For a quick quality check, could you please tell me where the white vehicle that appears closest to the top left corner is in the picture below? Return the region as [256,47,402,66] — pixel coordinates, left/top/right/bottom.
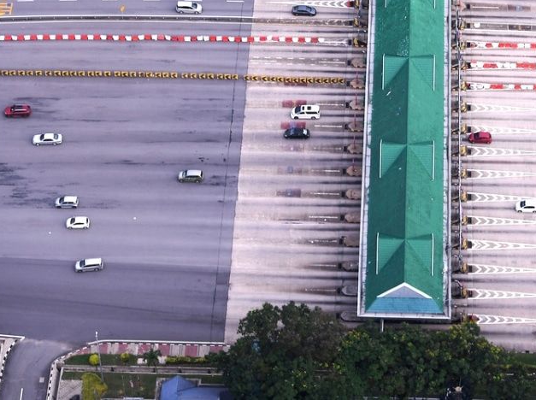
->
[33,133,62,146]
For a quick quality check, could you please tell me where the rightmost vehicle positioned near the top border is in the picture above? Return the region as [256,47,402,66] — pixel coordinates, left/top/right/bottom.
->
[292,4,317,16]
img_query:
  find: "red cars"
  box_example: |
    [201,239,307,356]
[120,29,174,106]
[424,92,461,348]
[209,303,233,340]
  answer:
[4,104,32,118]
[469,132,492,144]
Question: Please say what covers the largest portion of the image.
paved ground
